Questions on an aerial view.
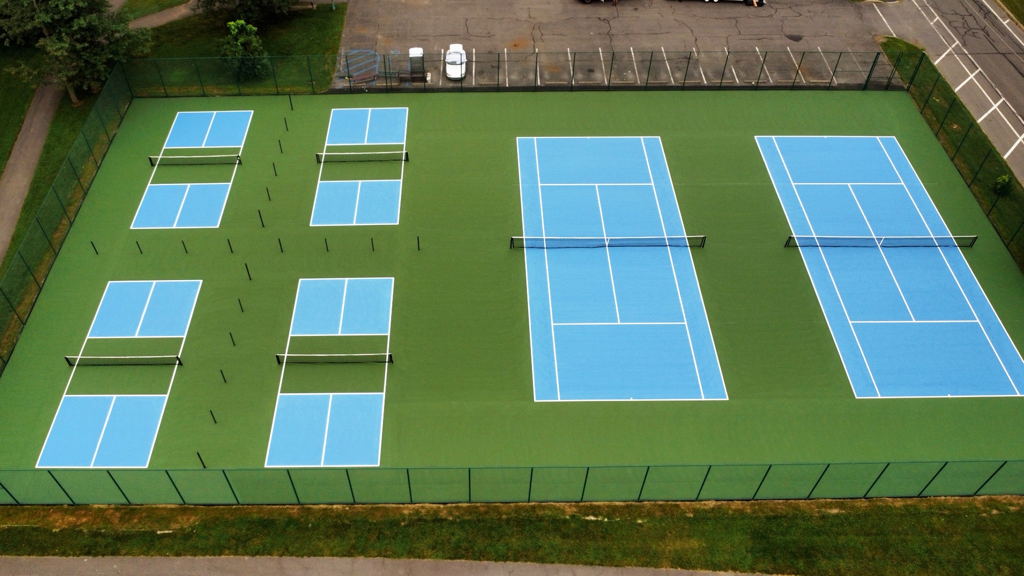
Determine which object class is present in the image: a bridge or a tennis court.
tennis court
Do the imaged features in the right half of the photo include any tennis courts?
Yes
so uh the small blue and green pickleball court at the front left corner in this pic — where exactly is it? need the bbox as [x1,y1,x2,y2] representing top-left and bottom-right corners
[35,280,202,468]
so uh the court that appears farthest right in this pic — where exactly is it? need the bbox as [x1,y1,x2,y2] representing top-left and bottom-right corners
[755,135,1024,397]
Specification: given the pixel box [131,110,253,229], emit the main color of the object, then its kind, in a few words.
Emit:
blue sports court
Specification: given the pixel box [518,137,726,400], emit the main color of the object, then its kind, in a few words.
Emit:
blue tennis court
